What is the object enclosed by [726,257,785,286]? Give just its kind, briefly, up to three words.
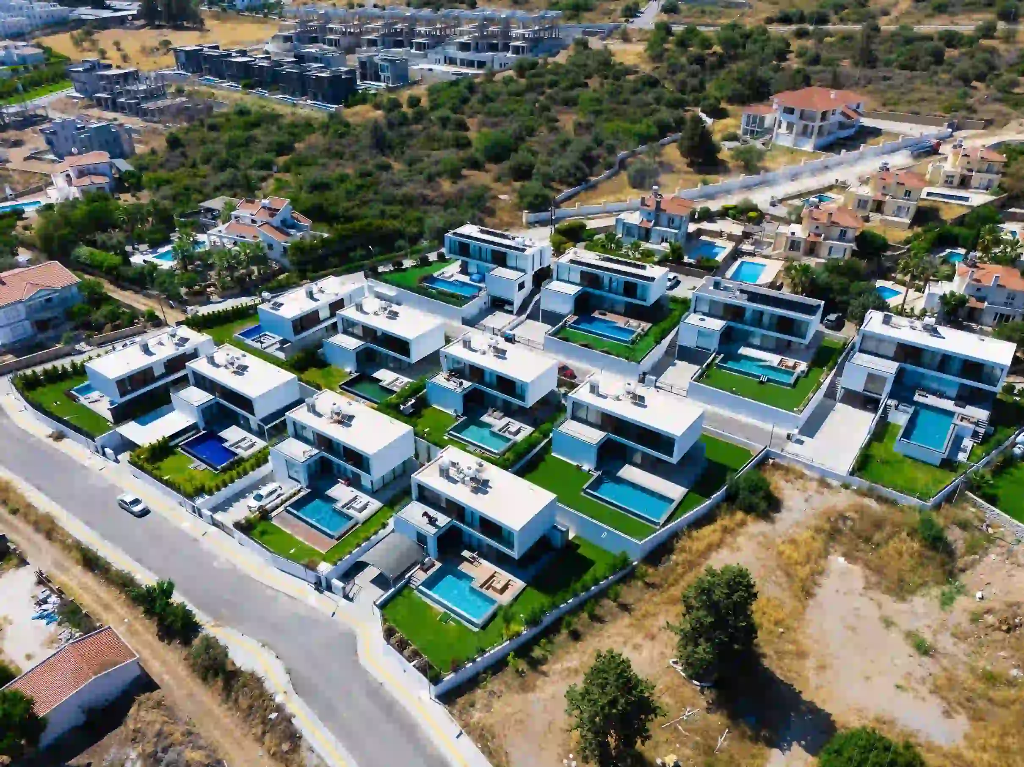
swimming pool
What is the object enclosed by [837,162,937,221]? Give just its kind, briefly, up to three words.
house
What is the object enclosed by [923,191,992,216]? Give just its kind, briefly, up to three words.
swimming pool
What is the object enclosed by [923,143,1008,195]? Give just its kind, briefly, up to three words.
house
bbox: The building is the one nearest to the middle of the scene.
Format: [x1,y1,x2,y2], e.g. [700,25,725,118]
[424,332,557,417]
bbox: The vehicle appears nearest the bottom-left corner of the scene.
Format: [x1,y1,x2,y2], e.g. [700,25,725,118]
[111,489,151,515]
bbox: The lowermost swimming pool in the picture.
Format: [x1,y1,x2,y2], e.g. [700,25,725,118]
[410,555,526,635]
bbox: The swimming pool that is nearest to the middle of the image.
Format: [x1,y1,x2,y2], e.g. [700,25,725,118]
[441,416,534,461]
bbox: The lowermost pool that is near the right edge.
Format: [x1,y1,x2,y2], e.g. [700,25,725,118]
[890,395,990,471]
